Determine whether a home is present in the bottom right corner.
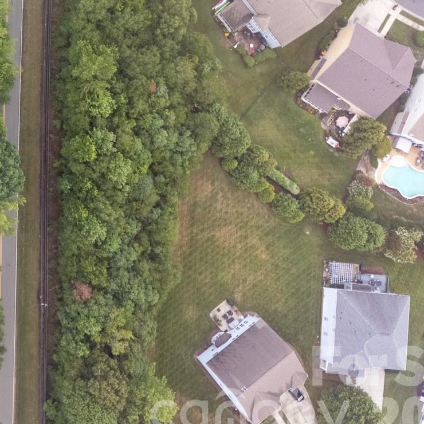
Yes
